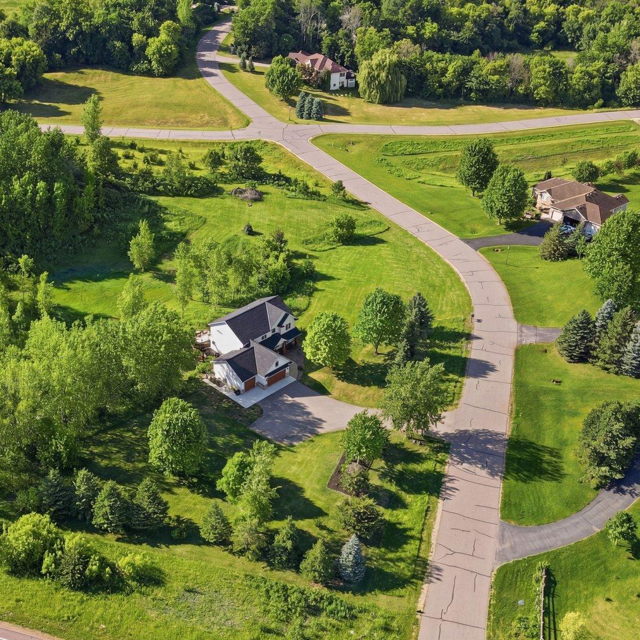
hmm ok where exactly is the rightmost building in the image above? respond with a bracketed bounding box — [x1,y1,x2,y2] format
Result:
[533,177,633,236]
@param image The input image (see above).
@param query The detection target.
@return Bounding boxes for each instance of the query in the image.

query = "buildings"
[533,177,633,236]
[283,50,357,90]
[209,296,303,393]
